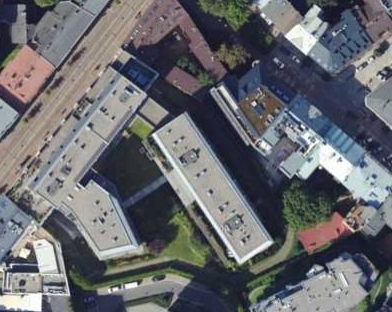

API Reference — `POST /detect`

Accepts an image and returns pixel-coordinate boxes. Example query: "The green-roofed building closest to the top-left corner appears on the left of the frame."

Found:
[127,118,154,140]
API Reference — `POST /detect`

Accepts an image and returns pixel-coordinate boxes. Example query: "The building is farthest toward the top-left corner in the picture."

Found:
[12,6,27,45]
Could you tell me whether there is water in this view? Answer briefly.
No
